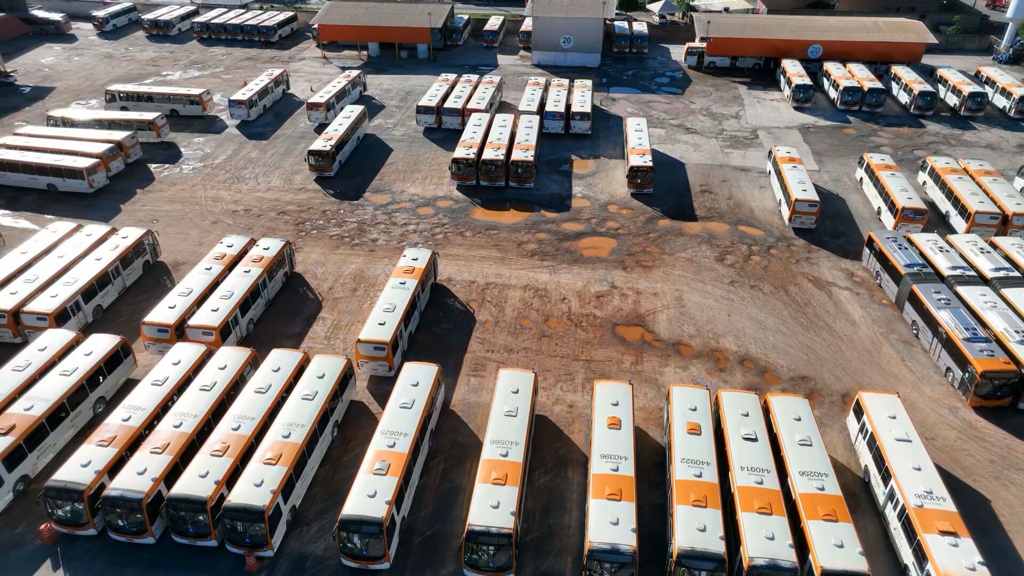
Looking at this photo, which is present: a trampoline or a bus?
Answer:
bus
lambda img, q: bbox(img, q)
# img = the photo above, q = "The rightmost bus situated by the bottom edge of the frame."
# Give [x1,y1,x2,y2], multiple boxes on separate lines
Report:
[848,394,987,576]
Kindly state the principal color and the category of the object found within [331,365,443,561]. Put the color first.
white bus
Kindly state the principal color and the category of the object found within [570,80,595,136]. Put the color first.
white bus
